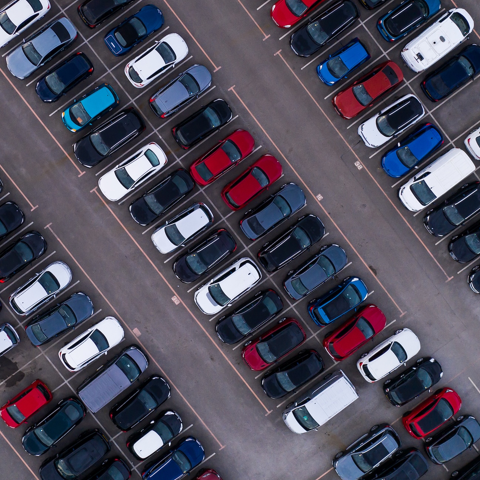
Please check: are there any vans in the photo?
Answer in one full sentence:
Yes, I can see a van in this picture.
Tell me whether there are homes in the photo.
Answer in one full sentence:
No, this view has no home in it.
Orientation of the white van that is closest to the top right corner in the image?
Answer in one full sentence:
Seen from above, the white van that is closest to the top right corner lies at an angle.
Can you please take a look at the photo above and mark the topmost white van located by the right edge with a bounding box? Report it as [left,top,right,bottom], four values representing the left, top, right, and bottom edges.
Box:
[397,6,476,75]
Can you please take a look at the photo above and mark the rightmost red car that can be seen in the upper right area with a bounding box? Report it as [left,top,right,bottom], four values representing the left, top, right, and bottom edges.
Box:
[331,57,404,119]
